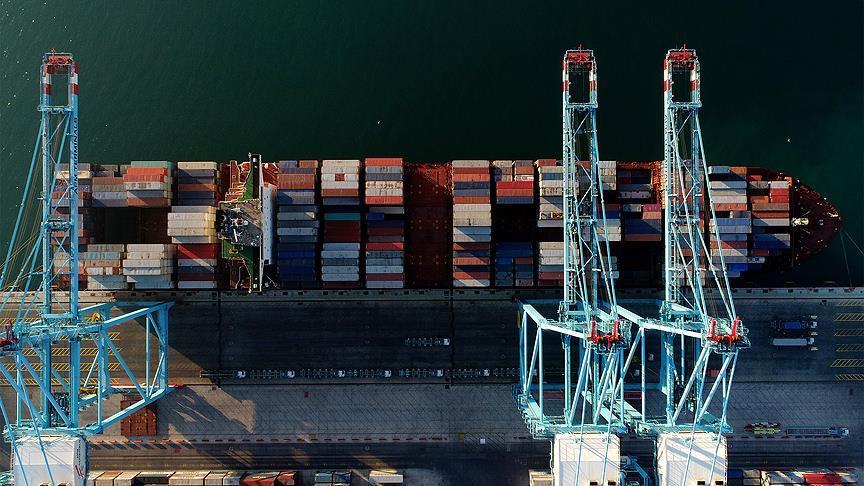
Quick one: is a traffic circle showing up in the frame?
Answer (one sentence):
No, there appears to be no traffic circle in this shot.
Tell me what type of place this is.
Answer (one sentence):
This image shows a port.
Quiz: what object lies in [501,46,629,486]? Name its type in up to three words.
container crane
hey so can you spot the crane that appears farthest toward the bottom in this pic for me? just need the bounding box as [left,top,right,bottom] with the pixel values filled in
[618,442,652,486]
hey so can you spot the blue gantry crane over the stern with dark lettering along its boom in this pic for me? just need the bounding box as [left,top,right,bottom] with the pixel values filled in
[0,46,190,486]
